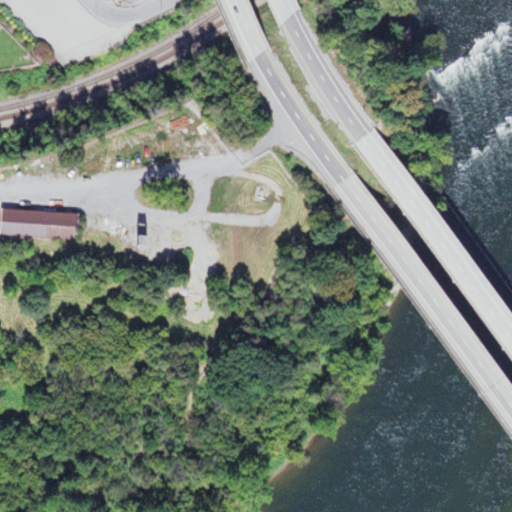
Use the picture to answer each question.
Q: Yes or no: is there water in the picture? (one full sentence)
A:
Yes, water can be seen from above here.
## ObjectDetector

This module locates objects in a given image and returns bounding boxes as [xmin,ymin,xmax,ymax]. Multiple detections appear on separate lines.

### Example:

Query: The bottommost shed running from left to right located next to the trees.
[1,208,78,240]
